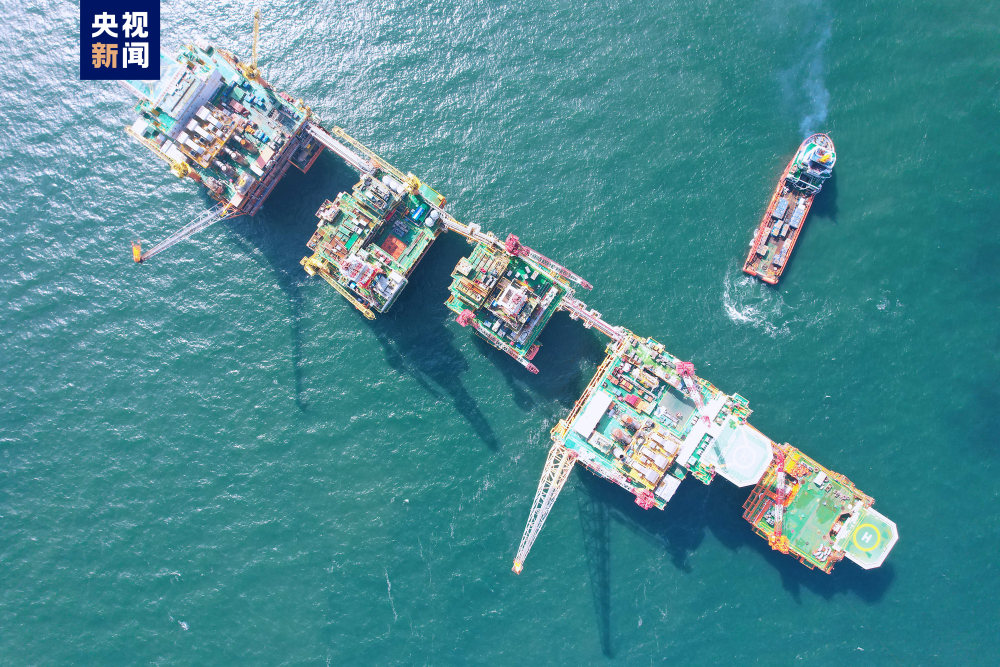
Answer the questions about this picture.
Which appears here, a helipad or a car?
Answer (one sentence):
There is a helipad in the scene.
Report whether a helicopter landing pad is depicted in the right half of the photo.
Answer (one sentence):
Yes, looking in the right half of the photo, one can make out a helicopter landing pad.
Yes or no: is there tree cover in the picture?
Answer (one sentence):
No, the picture contains no tree cover.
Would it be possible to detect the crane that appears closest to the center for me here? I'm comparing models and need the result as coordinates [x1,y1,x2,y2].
[455,306,540,374]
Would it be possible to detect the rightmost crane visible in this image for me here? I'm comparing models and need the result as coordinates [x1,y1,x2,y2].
[768,451,787,555]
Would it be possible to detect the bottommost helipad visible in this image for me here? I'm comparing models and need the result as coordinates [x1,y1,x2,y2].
[844,507,899,569]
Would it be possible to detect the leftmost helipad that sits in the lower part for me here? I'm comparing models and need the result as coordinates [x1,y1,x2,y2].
[701,417,773,487]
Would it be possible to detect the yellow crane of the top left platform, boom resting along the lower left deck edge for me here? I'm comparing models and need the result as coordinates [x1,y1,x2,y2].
[126,127,192,181]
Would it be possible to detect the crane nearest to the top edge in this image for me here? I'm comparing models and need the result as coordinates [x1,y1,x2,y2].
[241,11,262,84]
